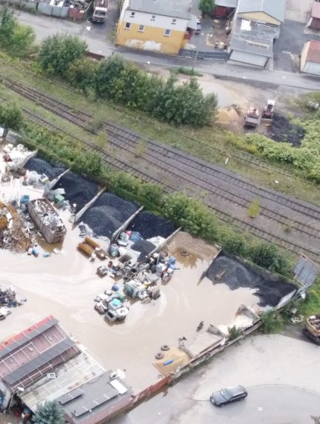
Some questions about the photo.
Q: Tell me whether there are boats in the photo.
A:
No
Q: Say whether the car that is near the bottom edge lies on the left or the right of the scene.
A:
right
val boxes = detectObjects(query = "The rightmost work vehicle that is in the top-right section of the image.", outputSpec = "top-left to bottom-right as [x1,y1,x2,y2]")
[260,97,277,121]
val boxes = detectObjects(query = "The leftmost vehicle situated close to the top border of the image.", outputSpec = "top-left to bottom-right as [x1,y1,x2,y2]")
[92,0,107,21]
